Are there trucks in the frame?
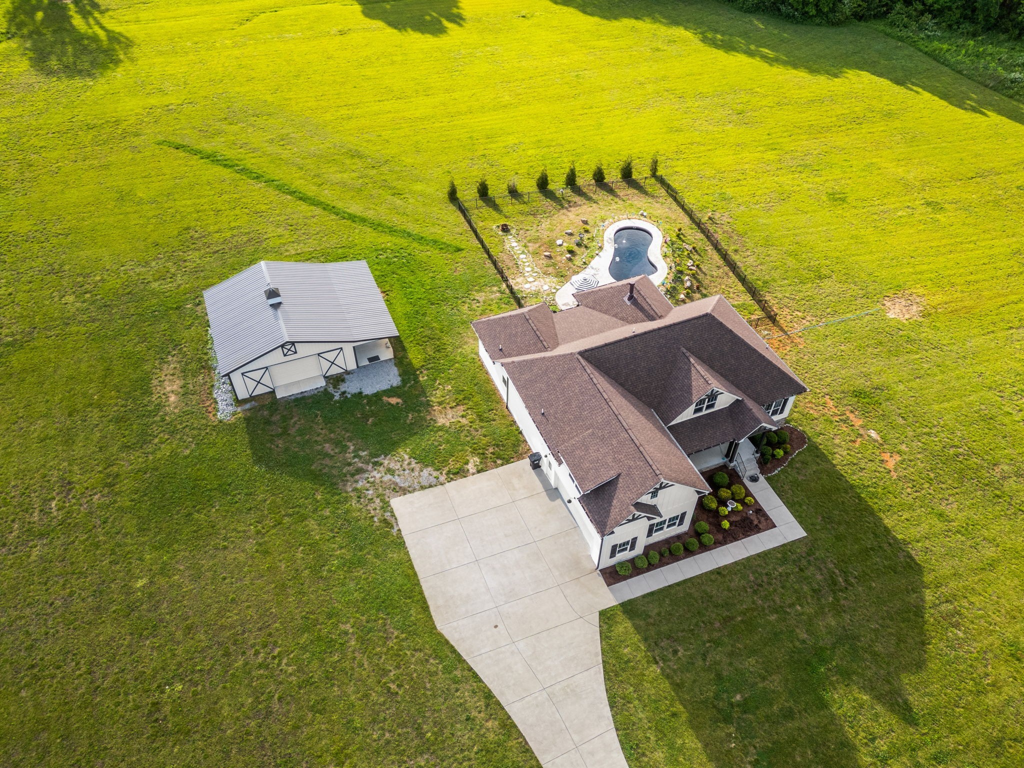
No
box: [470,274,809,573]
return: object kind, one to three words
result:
house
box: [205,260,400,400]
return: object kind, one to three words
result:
barn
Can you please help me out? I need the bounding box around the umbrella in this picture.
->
[570,273,599,290]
